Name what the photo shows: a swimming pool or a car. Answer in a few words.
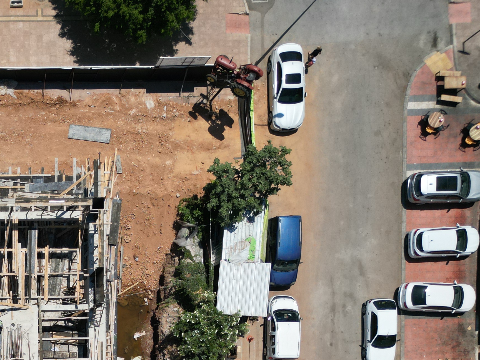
car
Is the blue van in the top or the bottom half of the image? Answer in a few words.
bottom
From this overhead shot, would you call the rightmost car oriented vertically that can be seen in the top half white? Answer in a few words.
Yes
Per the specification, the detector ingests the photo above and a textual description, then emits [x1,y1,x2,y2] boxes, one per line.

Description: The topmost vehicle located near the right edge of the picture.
[401,165,480,208]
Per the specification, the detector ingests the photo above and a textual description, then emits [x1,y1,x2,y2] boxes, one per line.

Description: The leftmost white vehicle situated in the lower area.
[262,295,307,360]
